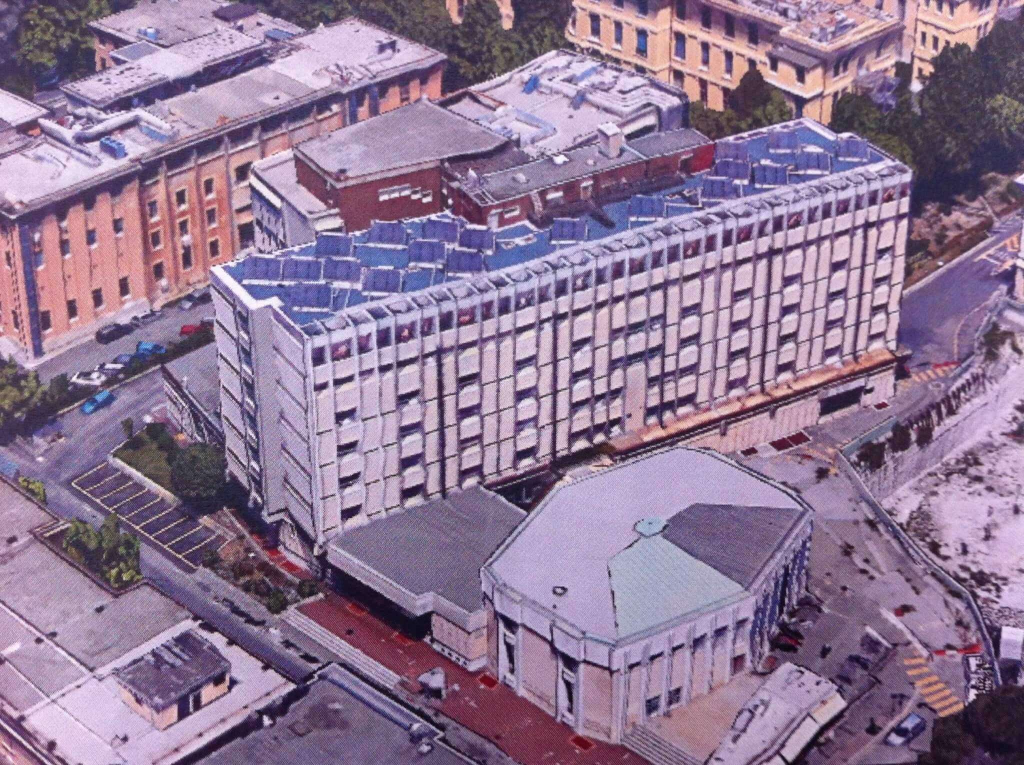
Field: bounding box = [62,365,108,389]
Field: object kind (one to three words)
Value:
car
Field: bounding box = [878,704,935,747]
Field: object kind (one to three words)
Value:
car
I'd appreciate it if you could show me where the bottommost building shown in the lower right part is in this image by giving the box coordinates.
[704,662,844,765]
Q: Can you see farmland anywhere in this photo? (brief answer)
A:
No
